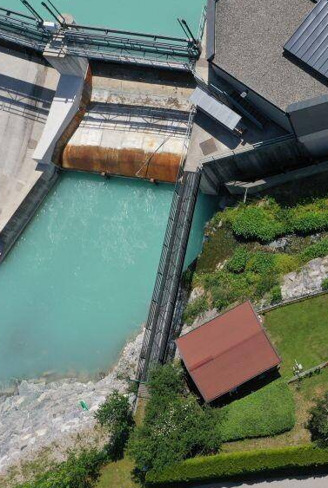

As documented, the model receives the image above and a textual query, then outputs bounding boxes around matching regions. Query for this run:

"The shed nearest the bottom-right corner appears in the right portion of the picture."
[175,301,282,403]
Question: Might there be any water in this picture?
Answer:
Yes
